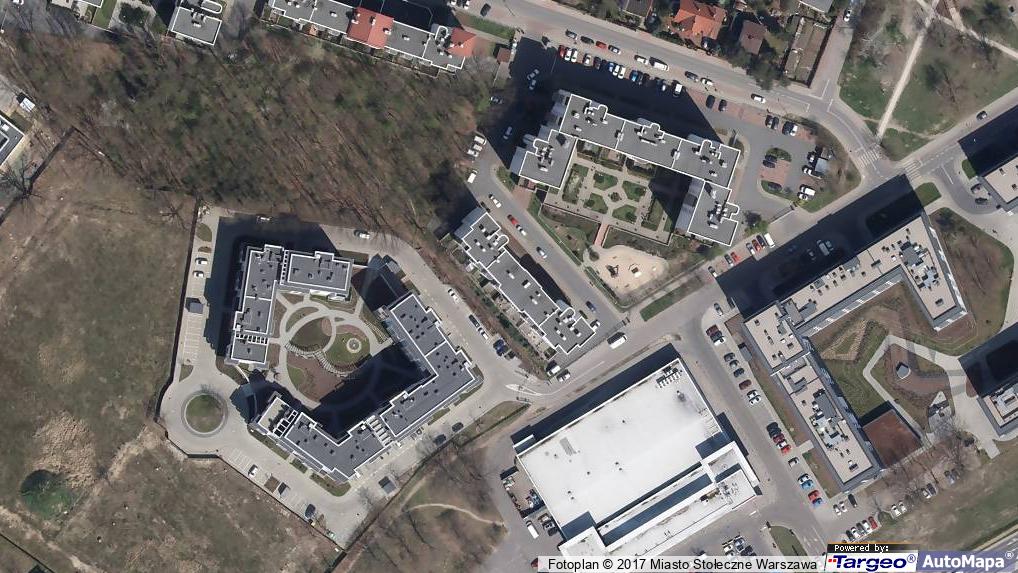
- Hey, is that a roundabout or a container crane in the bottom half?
roundabout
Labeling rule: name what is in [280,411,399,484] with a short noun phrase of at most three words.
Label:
building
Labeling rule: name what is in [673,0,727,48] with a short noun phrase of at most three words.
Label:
house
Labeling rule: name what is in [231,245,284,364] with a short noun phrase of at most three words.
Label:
building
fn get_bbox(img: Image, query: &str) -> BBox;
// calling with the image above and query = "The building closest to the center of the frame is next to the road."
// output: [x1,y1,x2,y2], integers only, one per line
[454,211,595,353]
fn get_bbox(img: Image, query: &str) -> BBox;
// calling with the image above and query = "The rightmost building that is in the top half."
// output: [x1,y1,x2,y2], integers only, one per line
[978,156,1018,213]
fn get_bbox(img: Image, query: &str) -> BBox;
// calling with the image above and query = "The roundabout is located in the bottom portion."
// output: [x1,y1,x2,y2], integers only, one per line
[181,389,229,437]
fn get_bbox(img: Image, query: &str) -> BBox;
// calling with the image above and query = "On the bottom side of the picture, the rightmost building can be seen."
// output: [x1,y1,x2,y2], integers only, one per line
[976,375,1018,435]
